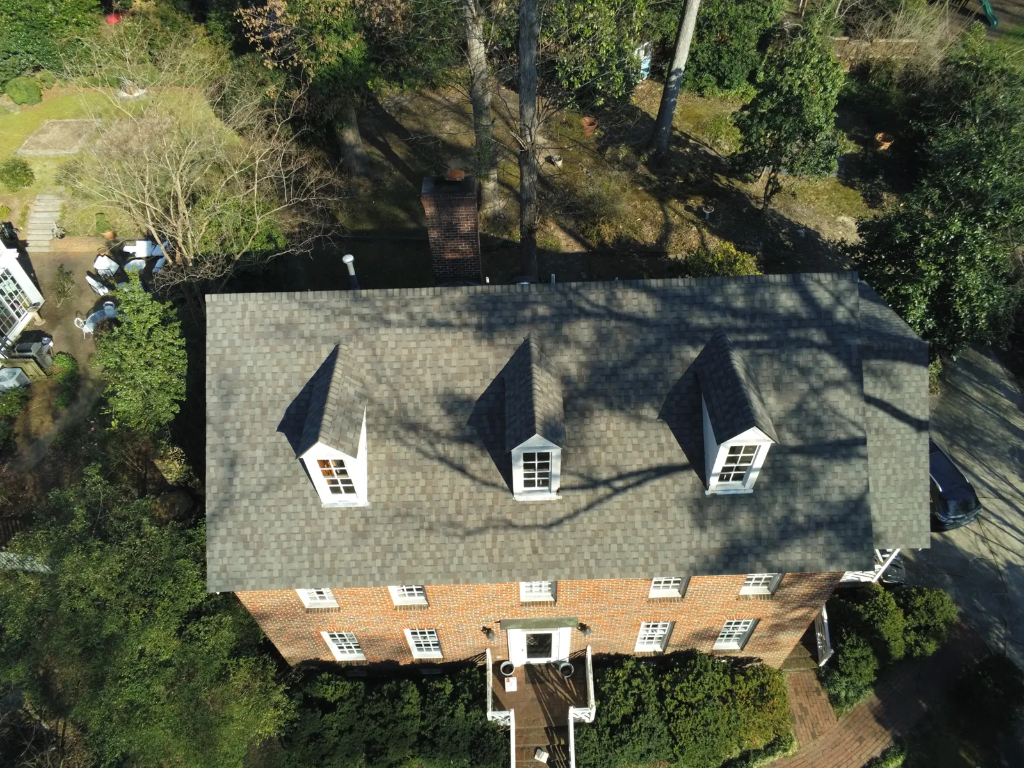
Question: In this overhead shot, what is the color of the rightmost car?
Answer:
black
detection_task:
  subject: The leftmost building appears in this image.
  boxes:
[0,233,44,337]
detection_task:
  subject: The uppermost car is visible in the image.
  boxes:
[930,431,984,531]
